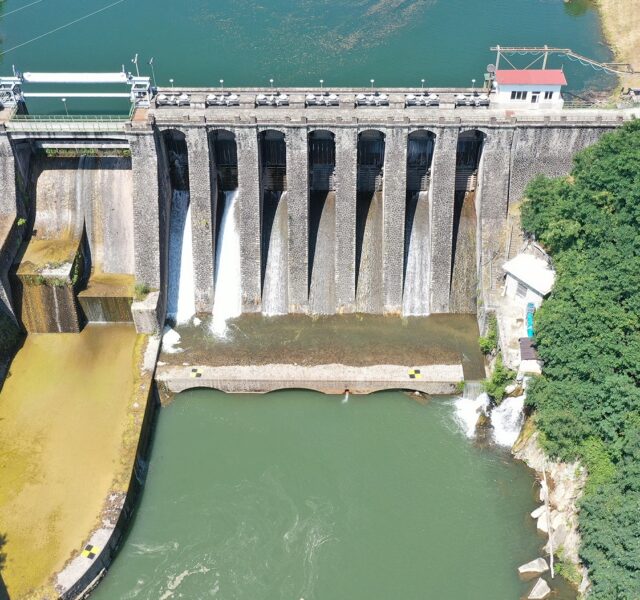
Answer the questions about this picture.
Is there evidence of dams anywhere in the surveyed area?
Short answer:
Yes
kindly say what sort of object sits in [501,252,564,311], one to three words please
shed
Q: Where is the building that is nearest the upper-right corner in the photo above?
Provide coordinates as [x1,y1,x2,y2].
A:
[492,63,569,108]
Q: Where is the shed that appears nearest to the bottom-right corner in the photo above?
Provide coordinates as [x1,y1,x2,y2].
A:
[514,338,548,377]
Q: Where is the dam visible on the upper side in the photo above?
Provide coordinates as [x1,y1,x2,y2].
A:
[0,88,639,336]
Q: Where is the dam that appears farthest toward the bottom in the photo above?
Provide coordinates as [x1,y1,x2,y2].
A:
[152,366,465,396]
